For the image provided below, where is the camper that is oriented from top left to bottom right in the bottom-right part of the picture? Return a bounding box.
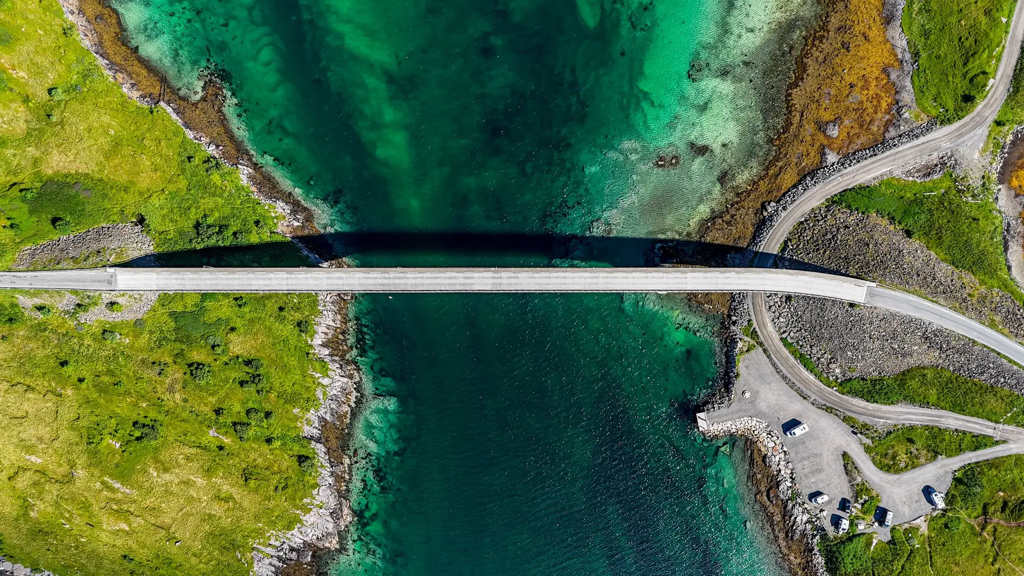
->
[924,484,945,509]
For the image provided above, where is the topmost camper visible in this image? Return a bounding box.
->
[784,421,809,437]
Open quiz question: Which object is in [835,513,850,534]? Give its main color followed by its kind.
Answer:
white camper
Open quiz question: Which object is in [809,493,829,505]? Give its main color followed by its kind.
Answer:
white vehicle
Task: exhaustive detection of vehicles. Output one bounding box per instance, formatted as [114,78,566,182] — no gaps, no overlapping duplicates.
[878,508,894,529]
[835,513,850,534]
[843,498,852,515]
[809,493,829,505]
[784,421,809,437]
[924,484,945,509]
